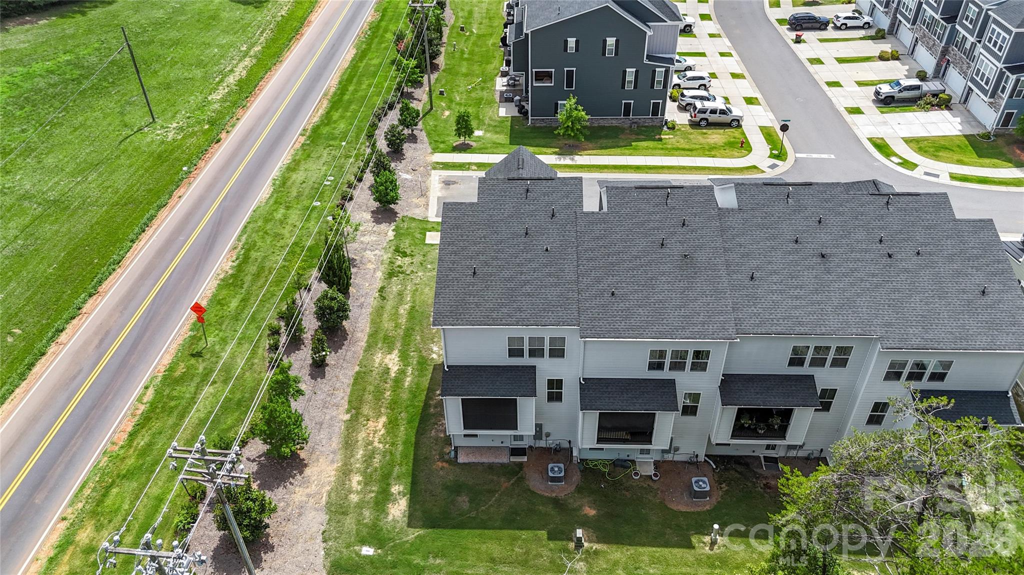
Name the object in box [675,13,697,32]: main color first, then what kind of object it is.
white vehicle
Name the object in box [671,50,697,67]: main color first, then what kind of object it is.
white car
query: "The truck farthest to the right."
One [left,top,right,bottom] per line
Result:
[872,72,942,99]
